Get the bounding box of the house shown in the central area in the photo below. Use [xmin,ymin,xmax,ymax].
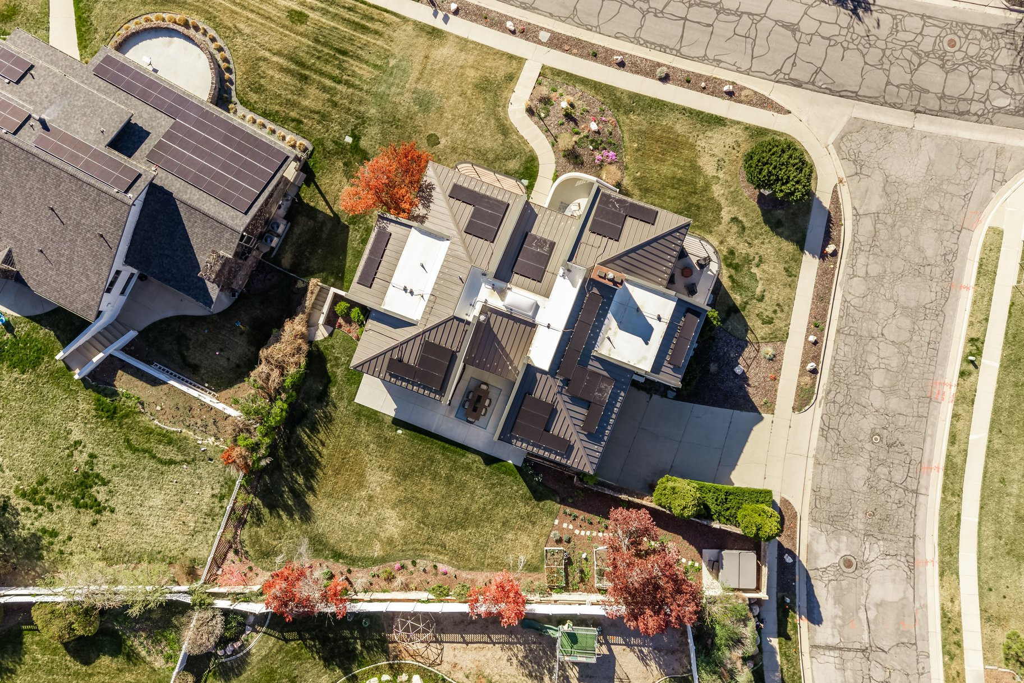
[345,162,712,475]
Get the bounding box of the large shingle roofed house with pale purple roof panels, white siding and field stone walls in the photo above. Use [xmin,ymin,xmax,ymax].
[0,19,312,328]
